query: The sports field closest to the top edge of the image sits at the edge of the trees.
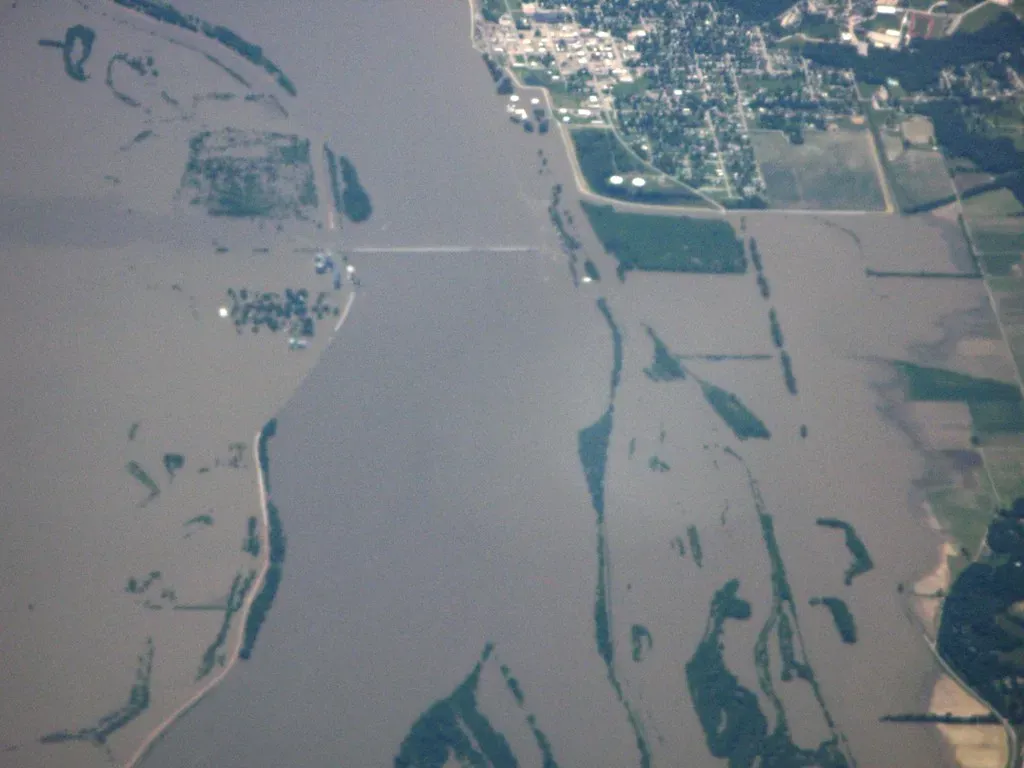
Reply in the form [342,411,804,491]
[906,12,944,37]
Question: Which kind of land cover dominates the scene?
water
